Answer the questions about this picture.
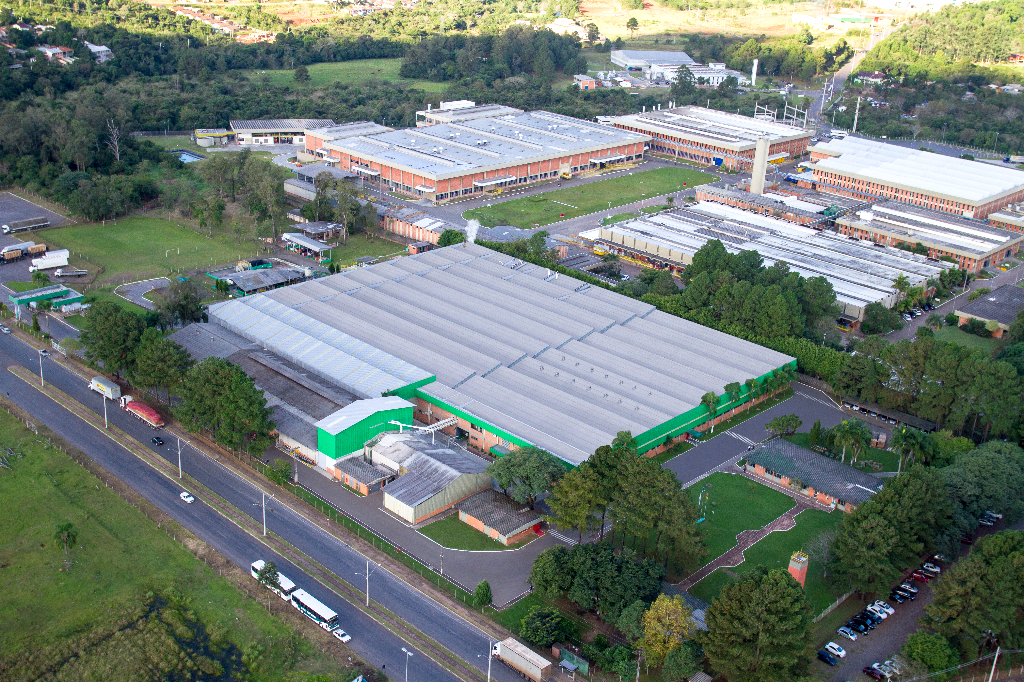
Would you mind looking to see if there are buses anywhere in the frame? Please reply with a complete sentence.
Yes, the picture does show a bus.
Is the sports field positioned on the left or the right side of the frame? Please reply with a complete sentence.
The sports field appears in the left half of the scene.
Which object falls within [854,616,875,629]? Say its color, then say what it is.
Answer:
black vehicle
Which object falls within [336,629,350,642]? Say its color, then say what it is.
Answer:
white vehicle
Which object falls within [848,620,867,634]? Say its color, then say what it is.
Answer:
black car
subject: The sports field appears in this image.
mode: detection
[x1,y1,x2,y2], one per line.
[22,216,249,280]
